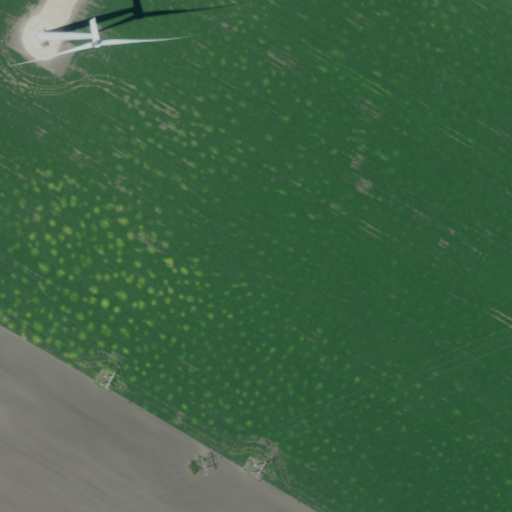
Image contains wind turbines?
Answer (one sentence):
Yes, you can see a wind turbine in this photo.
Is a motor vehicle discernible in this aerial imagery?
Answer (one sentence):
No, no motor vehicle is visible in the view.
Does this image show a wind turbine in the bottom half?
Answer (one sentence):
No, no wind turbine appears in the bottom half.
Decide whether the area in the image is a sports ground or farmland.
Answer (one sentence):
The area seen from above is farmland.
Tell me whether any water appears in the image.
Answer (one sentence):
No, there's no water in this view.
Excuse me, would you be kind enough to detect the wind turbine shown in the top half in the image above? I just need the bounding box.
[10,16,190,66]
